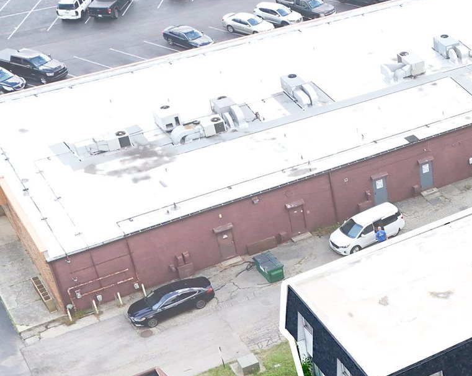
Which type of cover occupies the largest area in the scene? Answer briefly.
buildings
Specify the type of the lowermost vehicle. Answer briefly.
car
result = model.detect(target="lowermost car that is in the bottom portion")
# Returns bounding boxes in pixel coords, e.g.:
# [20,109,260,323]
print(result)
[124,275,217,328]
